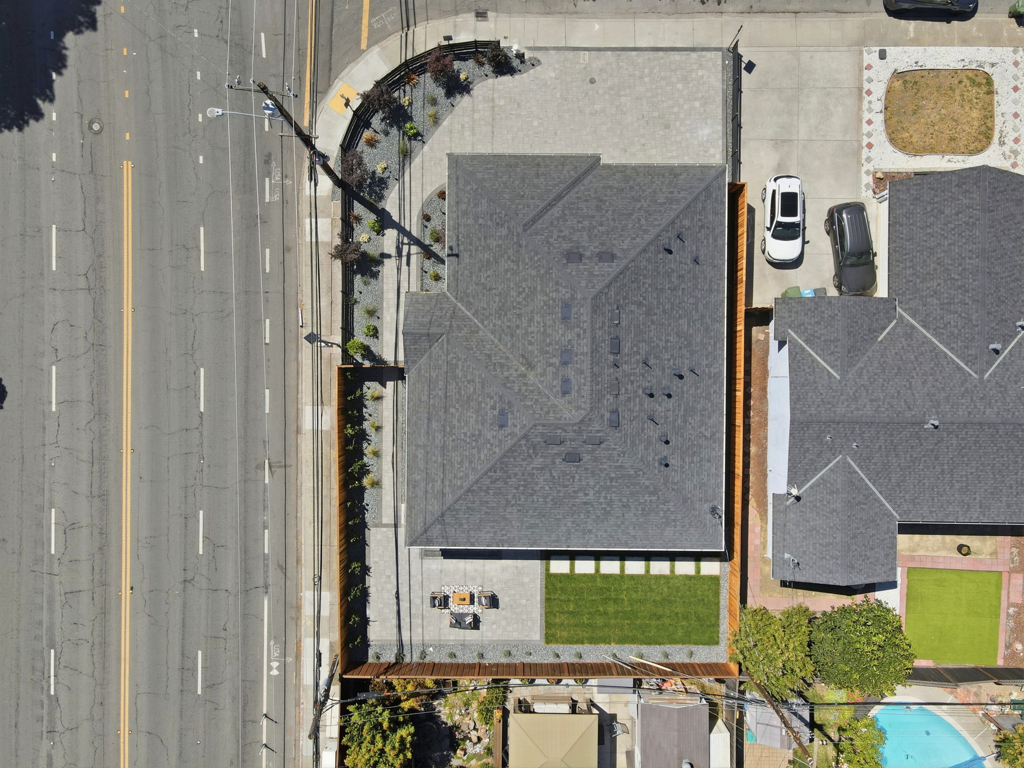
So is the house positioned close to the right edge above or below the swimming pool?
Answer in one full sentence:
The house positioned close to the right edge is above the swimming pool.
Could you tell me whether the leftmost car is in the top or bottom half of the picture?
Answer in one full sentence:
Seen from above, the leftmost car lies in the top half of the view.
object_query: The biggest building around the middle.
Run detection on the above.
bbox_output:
[402,152,728,551]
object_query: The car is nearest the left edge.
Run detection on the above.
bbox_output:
[761,171,811,264]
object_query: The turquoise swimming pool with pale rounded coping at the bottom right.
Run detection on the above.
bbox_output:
[864,695,993,768]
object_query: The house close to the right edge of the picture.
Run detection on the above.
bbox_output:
[759,164,1024,586]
